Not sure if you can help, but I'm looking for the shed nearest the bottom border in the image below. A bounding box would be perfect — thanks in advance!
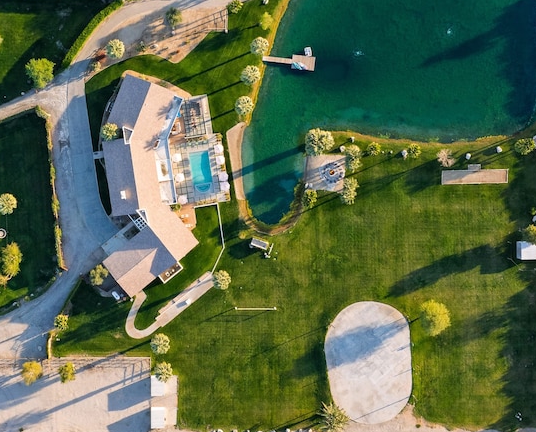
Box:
[150,404,164,428]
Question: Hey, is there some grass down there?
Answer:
Yes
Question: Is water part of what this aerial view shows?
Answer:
Yes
